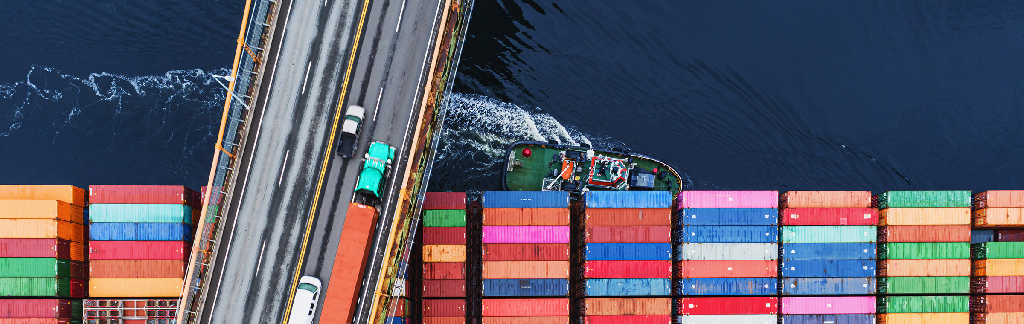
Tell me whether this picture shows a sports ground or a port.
port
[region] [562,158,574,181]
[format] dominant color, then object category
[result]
orange boat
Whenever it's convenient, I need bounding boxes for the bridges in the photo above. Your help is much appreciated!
[174,0,476,324]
